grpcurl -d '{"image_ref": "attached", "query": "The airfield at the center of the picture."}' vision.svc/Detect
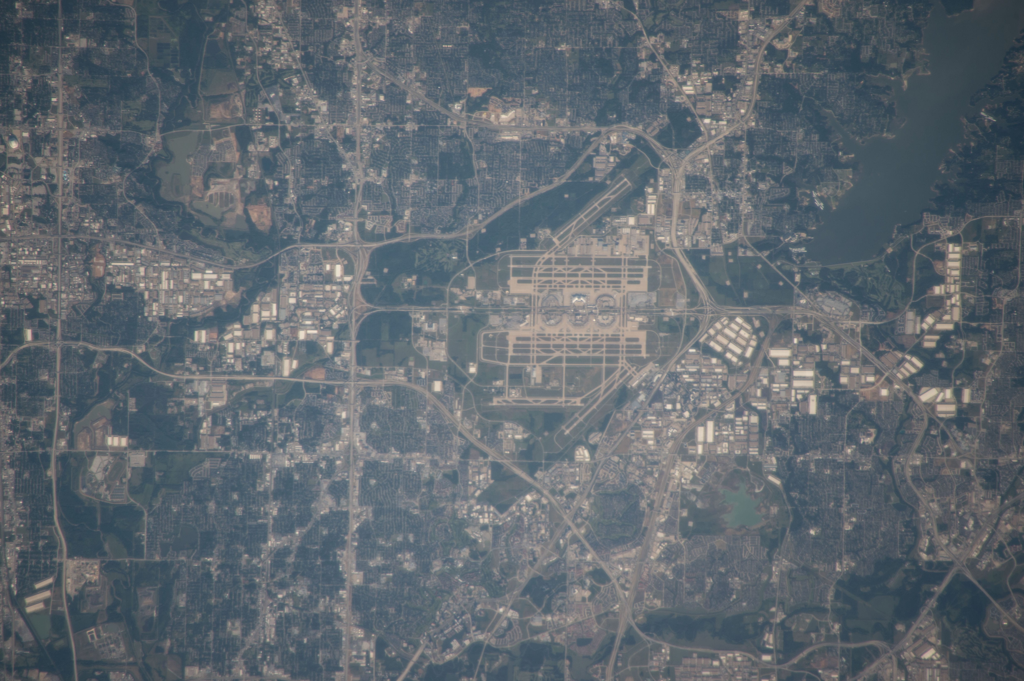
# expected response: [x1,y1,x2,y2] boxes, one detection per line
[481,179,661,449]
